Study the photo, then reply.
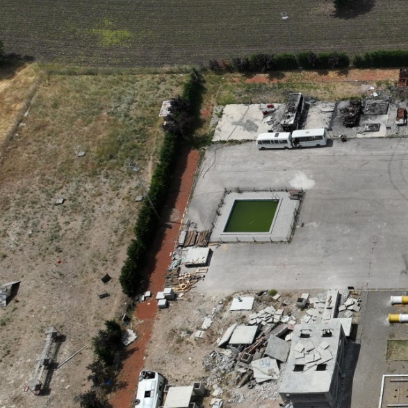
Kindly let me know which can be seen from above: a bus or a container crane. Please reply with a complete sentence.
There is a bus in the scene.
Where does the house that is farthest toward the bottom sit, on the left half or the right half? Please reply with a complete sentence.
The house that is farthest toward the bottom is on the right side of the image.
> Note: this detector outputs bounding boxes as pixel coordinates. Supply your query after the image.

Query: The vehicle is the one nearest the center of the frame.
[255,130,292,150]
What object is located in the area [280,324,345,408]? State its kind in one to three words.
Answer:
house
